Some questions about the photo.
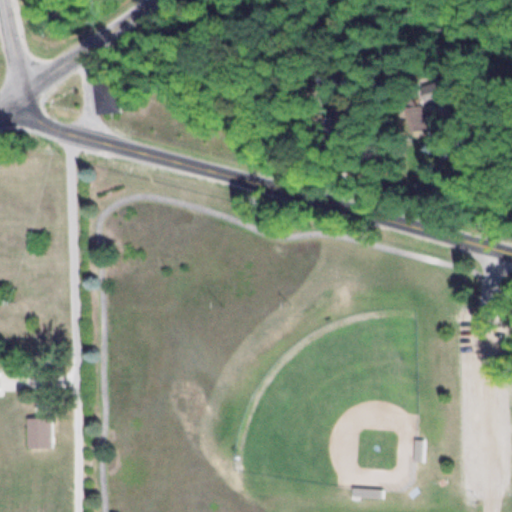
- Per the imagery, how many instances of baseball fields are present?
1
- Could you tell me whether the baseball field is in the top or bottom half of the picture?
bottom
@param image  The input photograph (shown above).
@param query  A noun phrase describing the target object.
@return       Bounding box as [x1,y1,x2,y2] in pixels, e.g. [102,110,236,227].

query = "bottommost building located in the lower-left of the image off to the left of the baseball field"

[28,420,54,450]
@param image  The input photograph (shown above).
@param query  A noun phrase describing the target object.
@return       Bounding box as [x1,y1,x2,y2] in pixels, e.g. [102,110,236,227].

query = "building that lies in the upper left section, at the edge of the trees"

[94,84,120,116]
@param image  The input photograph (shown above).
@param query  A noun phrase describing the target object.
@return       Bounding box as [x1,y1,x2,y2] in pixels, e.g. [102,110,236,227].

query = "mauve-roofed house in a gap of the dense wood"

[405,108,430,132]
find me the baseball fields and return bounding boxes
[240,310,417,492]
